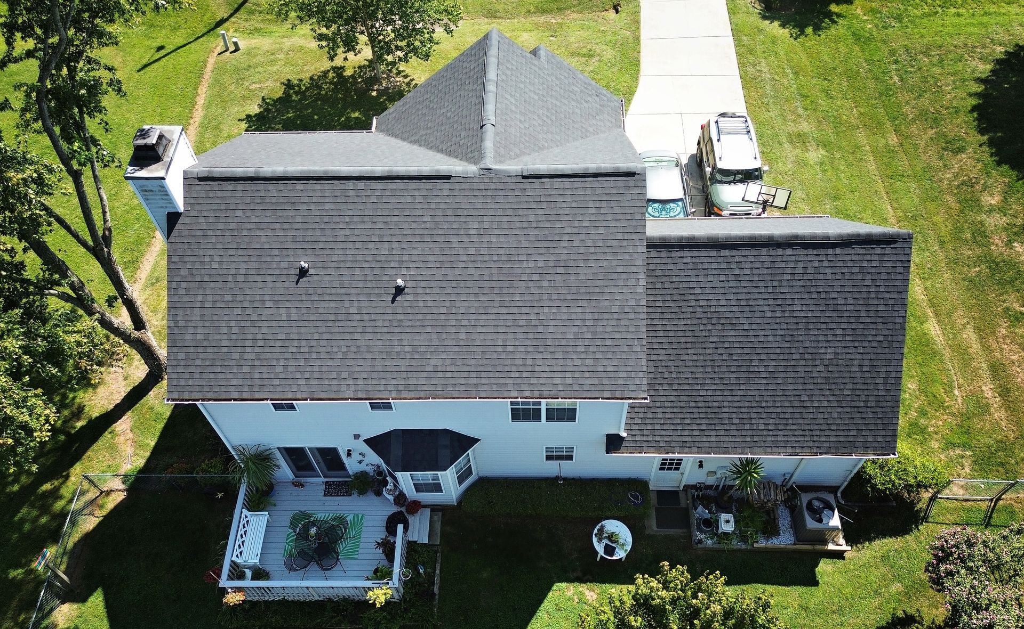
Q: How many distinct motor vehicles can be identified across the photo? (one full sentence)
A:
Looking from above, you can make out 2 motor vehicles.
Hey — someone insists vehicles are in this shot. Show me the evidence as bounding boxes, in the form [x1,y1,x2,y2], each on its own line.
[636,145,699,216]
[701,111,771,216]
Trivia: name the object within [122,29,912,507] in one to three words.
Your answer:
house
